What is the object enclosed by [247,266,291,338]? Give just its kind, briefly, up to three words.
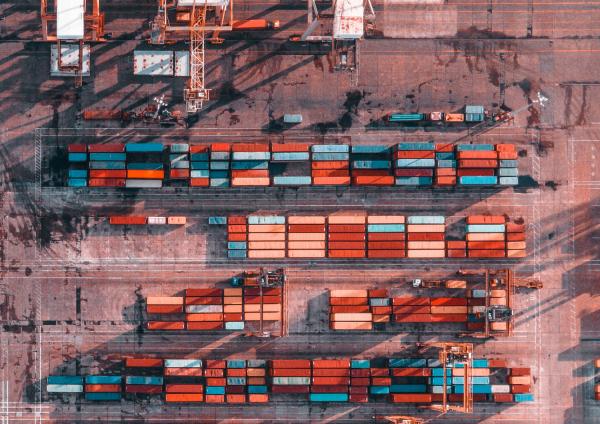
container crane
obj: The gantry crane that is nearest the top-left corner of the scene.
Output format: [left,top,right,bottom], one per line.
[30,0,112,90]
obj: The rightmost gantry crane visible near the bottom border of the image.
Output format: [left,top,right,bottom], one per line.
[422,341,474,415]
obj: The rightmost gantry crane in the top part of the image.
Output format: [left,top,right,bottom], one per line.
[274,0,379,92]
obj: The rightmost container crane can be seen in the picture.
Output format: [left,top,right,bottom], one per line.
[462,266,516,338]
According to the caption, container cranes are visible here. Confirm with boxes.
[422,341,474,415]
[144,0,243,110]
[274,0,379,92]
[30,0,112,90]
[462,266,516,338]
[247,266,291,338]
